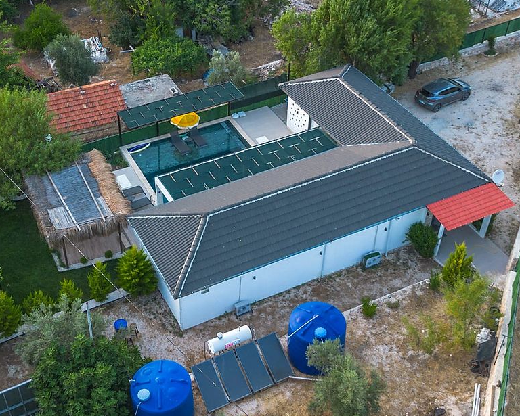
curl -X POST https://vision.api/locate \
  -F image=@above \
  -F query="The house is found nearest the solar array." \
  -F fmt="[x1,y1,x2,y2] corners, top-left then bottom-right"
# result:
[125,61,492,331]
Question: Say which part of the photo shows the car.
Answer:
top right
